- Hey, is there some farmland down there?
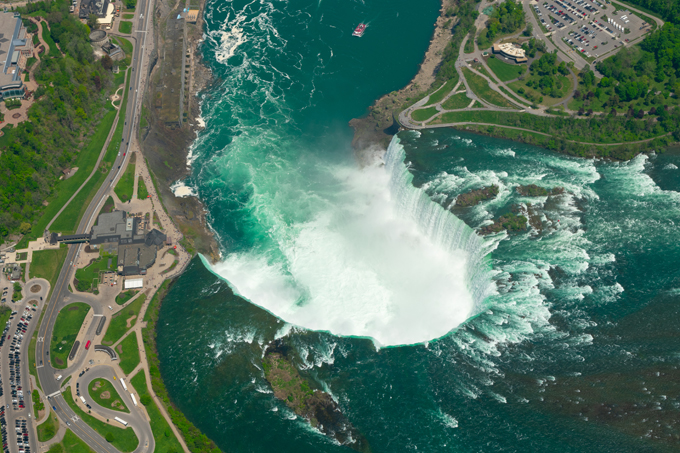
No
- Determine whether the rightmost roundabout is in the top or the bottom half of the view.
bottom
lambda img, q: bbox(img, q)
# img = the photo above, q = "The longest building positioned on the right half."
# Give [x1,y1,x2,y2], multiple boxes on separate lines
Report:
[493,43,528,64]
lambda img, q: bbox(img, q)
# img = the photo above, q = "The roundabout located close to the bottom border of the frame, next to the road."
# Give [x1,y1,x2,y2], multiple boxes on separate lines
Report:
[78,365,154,453]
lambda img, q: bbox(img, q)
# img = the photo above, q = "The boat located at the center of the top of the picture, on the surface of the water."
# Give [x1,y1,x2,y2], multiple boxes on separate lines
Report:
[353,21,367,36]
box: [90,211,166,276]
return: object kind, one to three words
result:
building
